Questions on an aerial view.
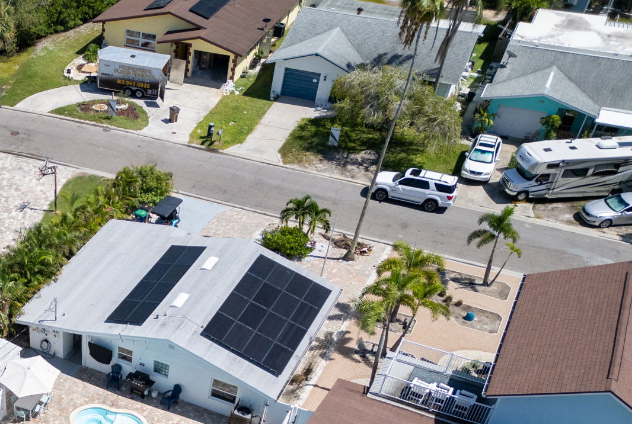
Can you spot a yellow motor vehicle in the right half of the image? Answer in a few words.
No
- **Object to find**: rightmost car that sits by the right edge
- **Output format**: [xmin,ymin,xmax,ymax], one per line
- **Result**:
[577,191,632,227]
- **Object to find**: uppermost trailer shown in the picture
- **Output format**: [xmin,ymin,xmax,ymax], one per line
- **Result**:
[92,47,181,98]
